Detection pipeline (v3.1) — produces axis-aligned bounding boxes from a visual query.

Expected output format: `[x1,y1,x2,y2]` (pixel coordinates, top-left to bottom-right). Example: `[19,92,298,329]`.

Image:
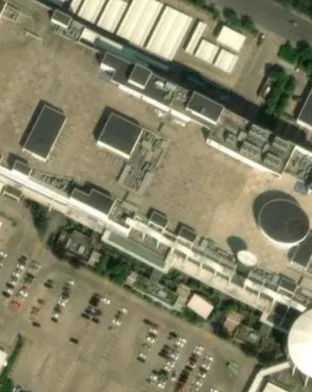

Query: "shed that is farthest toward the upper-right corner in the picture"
[216,26,246,53]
